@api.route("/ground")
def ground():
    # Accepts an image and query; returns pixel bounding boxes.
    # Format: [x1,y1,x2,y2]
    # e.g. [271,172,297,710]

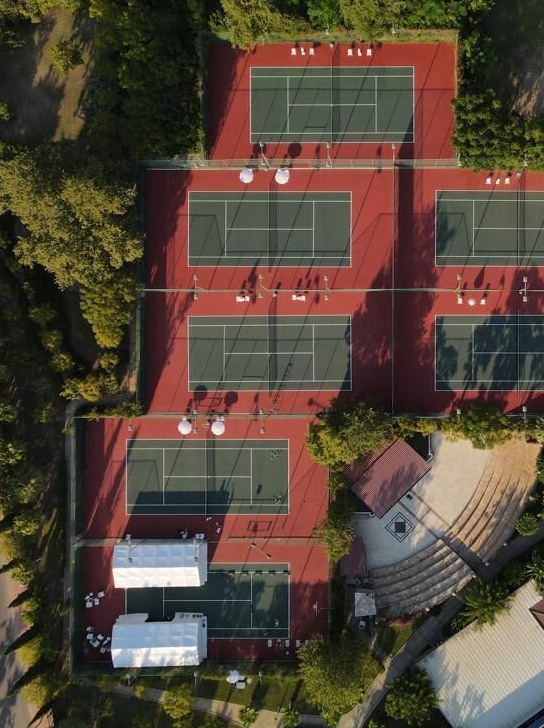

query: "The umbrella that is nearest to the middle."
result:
[211,419,225,433]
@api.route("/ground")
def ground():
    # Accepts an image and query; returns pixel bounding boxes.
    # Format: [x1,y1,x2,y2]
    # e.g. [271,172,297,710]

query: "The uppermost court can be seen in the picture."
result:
[206,43,457,168]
